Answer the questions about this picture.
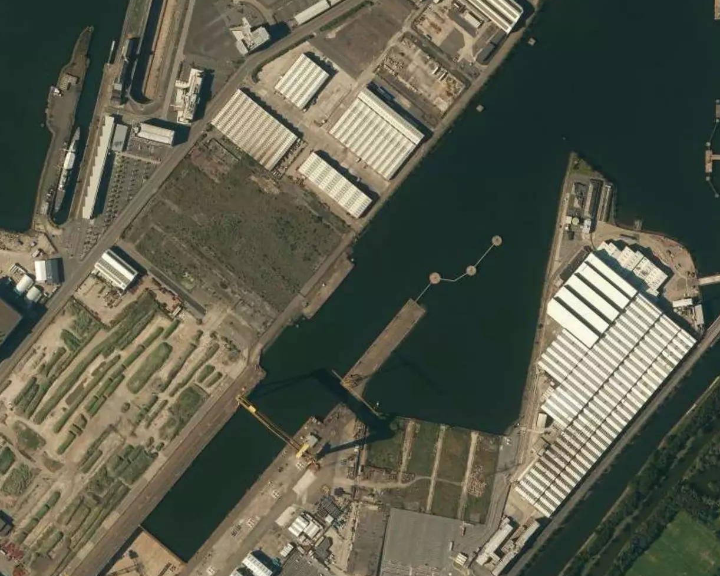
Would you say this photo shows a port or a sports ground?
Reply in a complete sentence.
This looks like a port.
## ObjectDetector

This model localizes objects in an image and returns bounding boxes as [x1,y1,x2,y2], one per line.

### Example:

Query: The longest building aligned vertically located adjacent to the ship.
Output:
[82,115,114,219]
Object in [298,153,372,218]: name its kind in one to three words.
building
